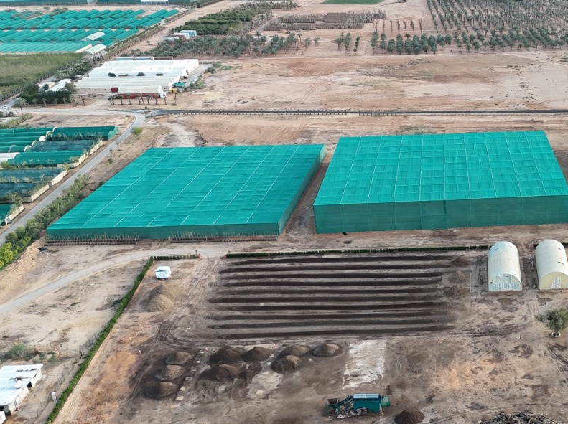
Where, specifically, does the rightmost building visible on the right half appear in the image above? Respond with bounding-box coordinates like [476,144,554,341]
[535,236,568,289]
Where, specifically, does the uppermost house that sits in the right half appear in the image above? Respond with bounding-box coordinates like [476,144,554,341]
[314,130,568,232]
